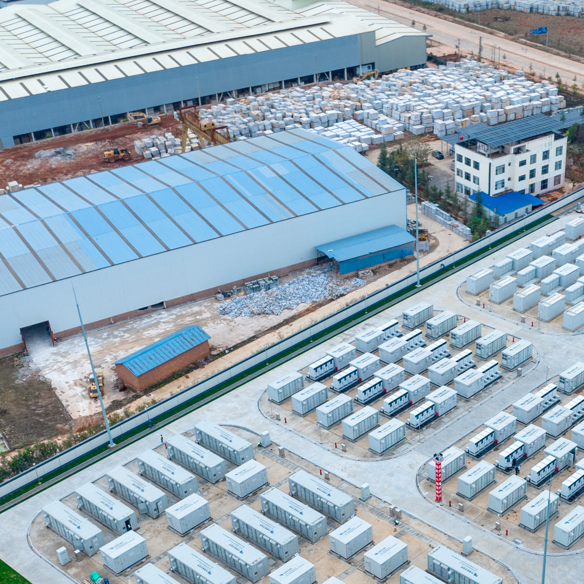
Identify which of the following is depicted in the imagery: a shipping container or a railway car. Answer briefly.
shipping container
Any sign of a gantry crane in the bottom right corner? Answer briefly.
No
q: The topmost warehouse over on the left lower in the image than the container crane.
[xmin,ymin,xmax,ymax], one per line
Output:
[0,127,409,358]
